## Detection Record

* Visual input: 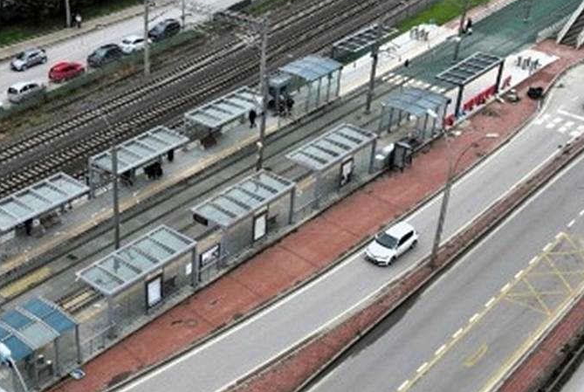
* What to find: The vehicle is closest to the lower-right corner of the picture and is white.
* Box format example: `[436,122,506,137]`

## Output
[363,217,420,261]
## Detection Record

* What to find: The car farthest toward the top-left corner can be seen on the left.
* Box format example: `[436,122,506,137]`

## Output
[5,42,50,68]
